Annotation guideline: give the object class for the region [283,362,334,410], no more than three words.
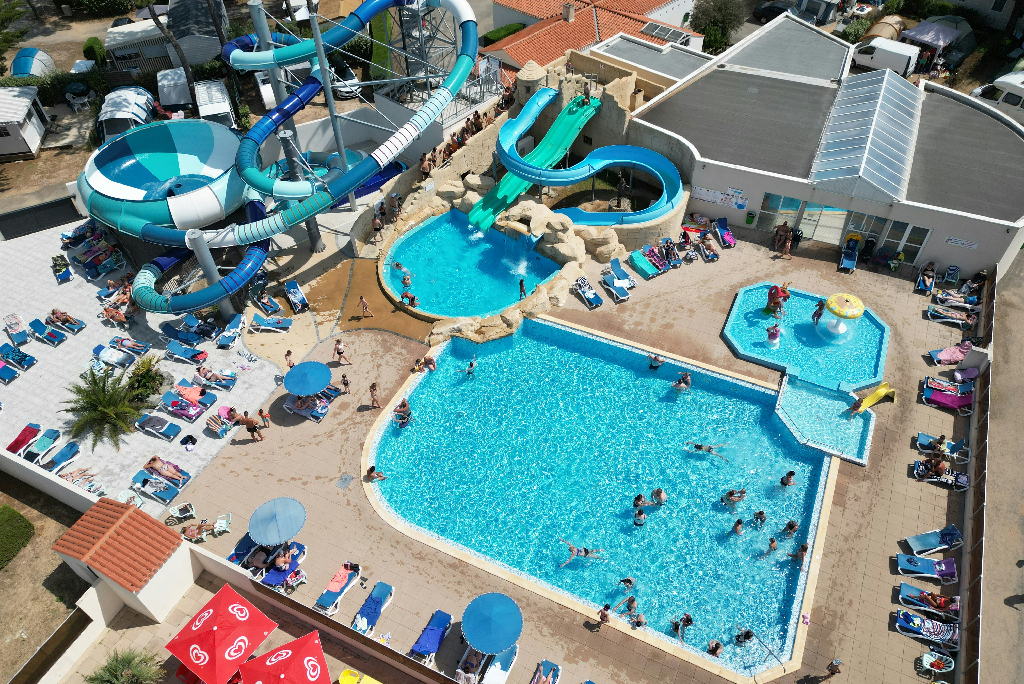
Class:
umbrella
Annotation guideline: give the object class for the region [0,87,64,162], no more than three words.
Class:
building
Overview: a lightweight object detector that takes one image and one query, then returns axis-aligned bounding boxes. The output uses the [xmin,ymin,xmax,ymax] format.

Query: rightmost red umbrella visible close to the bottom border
[240,630,331,684]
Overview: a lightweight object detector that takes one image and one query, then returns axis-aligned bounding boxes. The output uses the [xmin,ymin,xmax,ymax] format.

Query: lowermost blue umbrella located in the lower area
[458,588,525,656]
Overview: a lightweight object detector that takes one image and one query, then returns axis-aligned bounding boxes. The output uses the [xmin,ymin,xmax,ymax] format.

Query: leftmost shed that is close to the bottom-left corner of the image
[50,499,194,624]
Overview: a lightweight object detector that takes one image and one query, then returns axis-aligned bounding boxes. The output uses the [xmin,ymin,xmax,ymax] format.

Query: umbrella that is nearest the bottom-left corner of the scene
[163,584,277,684]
